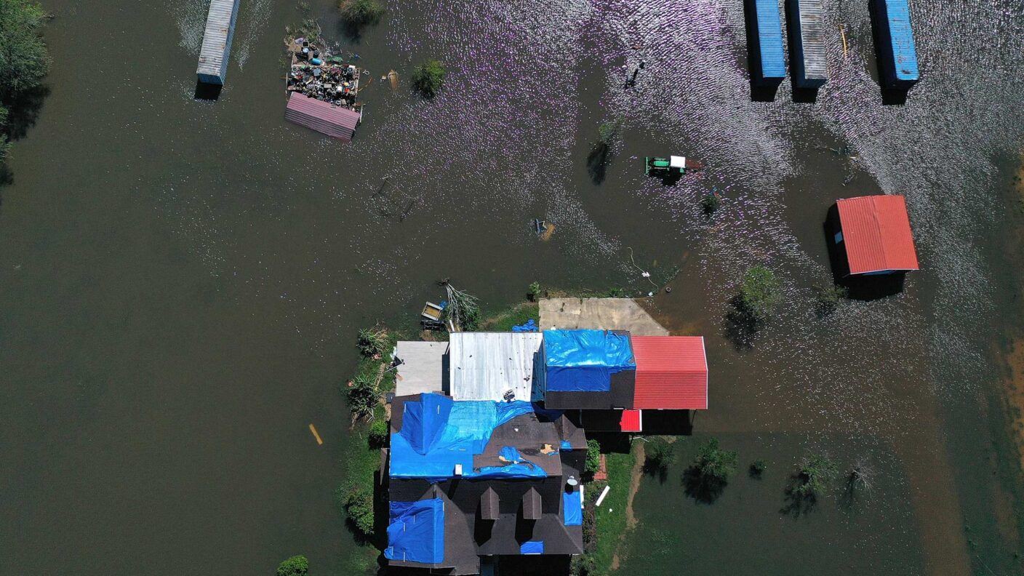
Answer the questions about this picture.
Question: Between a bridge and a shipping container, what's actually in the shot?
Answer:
shipping container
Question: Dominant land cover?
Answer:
water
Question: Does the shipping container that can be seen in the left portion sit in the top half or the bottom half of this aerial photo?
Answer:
top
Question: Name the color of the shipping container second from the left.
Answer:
blue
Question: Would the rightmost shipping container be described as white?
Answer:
No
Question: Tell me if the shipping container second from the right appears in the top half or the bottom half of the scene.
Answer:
top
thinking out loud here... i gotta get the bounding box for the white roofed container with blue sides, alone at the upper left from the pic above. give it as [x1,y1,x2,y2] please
[197,0,239,87]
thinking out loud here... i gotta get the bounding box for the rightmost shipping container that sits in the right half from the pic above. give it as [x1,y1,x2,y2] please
[873,0,919,91]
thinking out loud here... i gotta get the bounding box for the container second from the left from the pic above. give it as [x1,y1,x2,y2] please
[747,0,786,88]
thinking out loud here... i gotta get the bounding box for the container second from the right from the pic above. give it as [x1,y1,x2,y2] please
[789,0,827,90]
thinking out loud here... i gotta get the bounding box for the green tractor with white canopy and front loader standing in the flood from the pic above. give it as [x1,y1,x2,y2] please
[644,156,684,176]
